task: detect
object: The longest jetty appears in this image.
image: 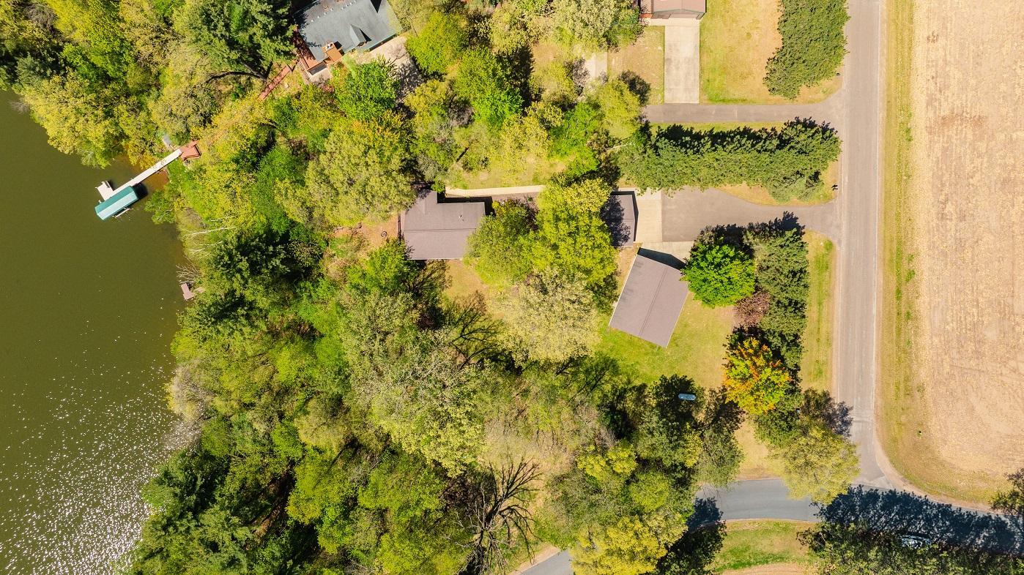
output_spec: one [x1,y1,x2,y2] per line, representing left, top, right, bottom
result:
[94,148,182,201]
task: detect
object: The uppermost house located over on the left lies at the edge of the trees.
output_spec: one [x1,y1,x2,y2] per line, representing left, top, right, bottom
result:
[289,0,402,76]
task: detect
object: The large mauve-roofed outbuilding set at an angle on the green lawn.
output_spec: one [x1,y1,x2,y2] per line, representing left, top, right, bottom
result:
[609,255,690,348]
